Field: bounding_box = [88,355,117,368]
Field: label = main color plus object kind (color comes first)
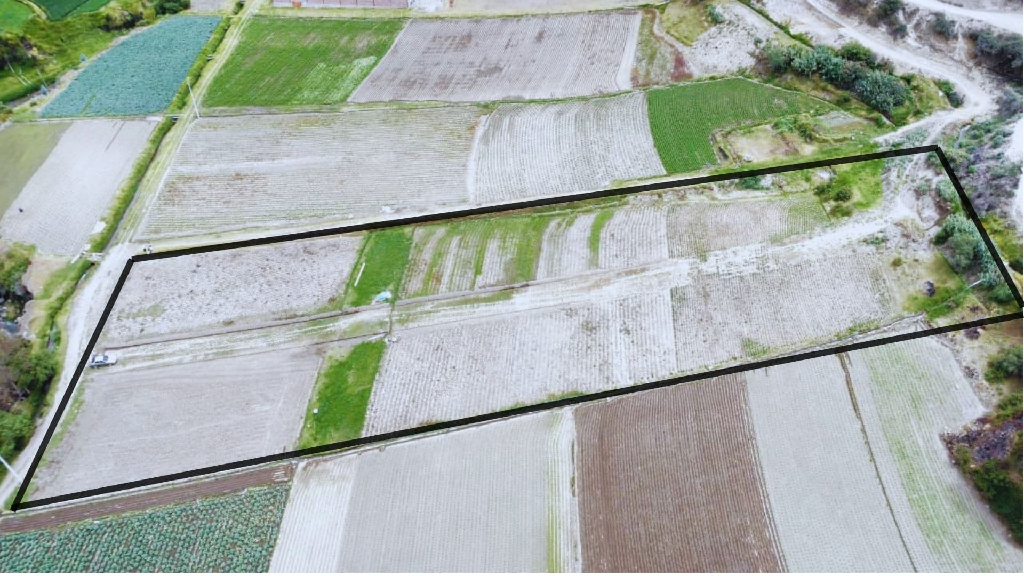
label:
white vehicle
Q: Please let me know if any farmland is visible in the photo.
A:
Yes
